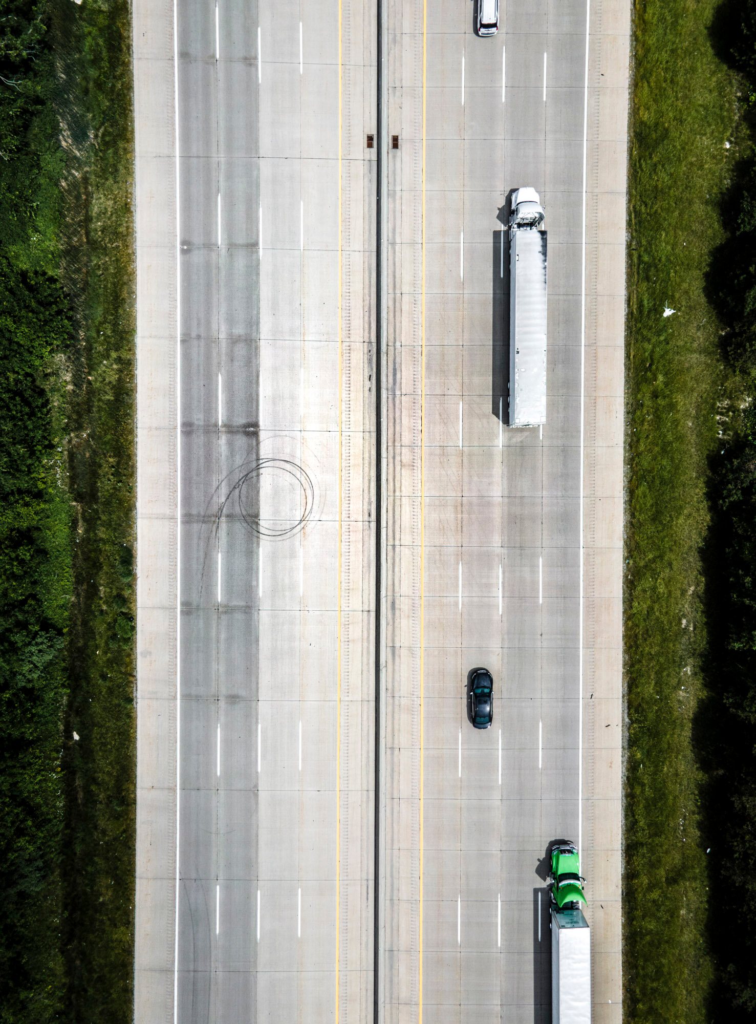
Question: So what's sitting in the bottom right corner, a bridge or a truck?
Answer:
truck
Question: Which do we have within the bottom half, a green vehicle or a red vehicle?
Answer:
green vehicle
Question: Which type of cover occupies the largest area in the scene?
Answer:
paved ground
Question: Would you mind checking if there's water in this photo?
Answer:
No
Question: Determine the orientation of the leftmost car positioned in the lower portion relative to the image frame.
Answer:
up and down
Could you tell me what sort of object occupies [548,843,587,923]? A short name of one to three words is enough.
truck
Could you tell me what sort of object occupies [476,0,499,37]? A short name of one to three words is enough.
car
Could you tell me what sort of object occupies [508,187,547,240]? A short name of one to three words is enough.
truck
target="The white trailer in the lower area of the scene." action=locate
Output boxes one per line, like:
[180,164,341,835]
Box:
[550,908,590,1024]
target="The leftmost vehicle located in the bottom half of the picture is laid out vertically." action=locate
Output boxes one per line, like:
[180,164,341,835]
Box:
[470,670,496,728]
